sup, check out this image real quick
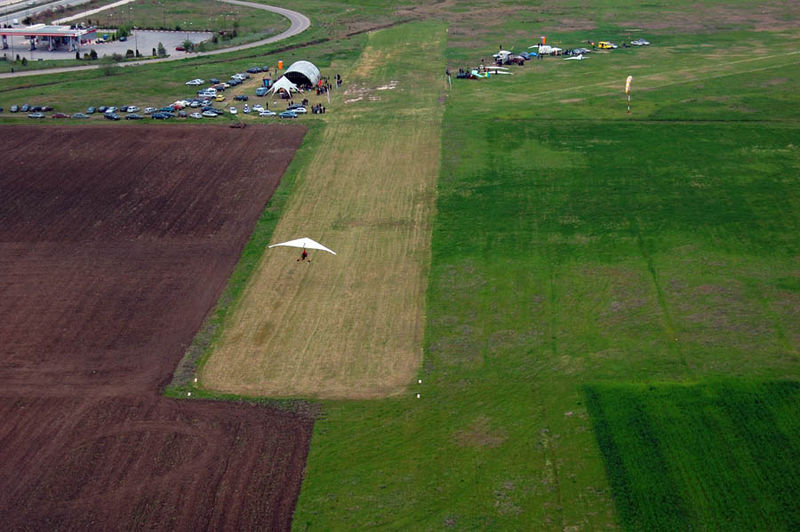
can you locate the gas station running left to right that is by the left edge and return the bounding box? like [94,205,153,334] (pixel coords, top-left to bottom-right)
[0,23,101,52]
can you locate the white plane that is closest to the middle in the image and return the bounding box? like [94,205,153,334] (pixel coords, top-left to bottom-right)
[269,237,338,261]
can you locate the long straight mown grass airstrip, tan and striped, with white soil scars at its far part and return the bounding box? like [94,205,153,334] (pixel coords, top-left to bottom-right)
[191,20,448,400]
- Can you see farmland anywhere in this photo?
Yes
